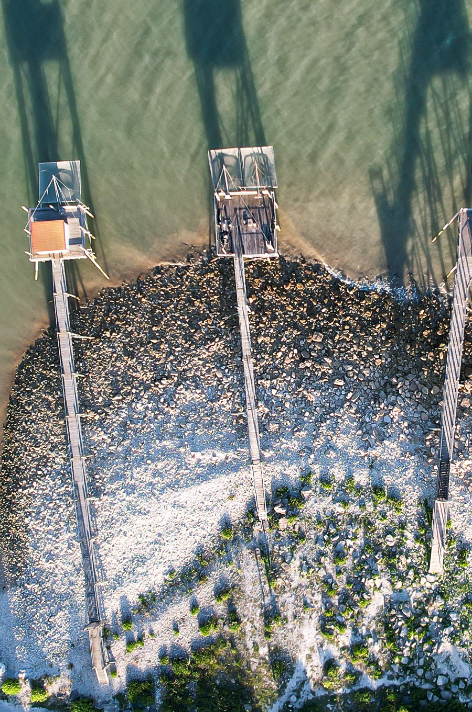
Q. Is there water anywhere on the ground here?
Yes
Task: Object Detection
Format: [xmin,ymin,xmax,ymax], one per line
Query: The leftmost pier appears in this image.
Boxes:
[18,202,115,686]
